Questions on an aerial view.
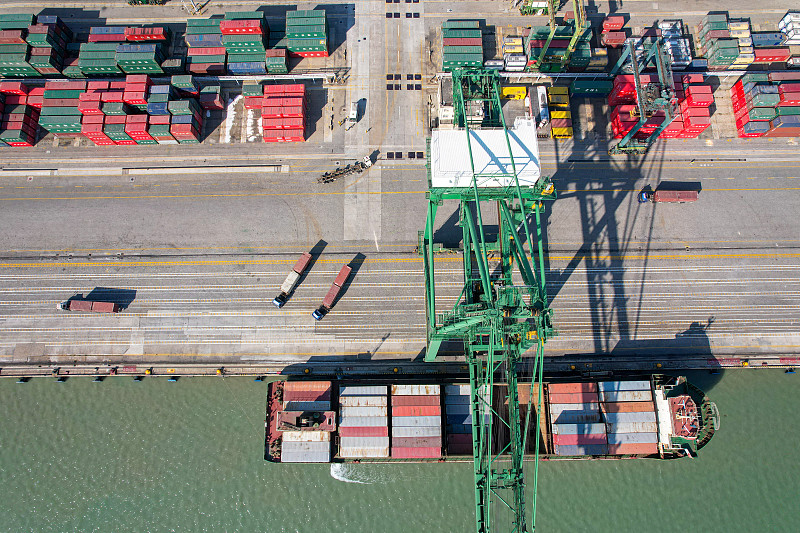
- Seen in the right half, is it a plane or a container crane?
container crane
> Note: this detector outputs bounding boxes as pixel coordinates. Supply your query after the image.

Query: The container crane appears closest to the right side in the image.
[603,32,688,154]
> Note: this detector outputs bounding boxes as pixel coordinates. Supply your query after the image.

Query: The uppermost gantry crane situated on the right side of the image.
[524,0,587,73]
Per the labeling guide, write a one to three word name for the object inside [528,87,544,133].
vehicle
